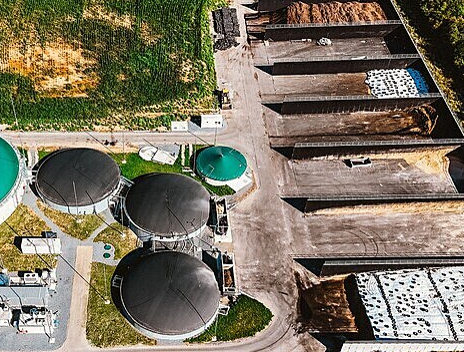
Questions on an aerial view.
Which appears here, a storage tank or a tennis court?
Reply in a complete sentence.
There is a storage tank in the scene.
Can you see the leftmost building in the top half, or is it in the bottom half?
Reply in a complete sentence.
The leftmost building sits in the bottom half of the picture.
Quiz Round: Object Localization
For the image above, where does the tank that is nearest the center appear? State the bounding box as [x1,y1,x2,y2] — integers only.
[197,144,248,186]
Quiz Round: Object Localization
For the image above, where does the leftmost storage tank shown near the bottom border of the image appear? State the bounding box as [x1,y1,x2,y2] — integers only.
[120,250,220,340]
